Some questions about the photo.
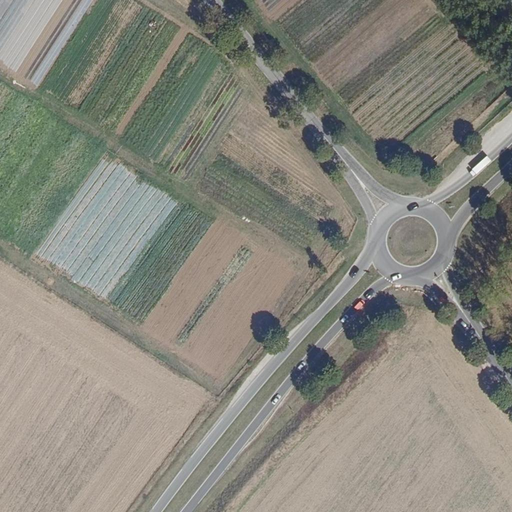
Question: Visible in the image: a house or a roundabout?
roundabout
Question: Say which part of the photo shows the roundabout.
right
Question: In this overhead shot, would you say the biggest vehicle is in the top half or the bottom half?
top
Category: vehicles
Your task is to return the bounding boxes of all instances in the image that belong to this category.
[355,300,366,310]
[392,274,402,280]
[470,156,492,176]
[408,202,419,210]
[340,314,350,324]
[350,266,359,276]
[461,319,470,330]
[296,361,306,372]
[272,394,281,404]
[364,289,374,299]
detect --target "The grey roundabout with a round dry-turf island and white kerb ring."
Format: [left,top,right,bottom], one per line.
[345,178,475,304]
